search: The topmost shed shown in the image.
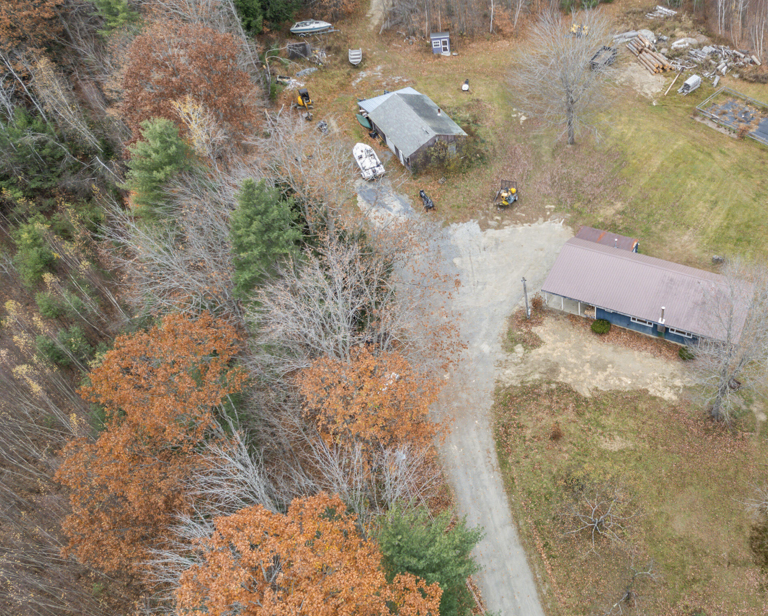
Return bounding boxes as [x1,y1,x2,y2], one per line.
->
[432,32,453,57]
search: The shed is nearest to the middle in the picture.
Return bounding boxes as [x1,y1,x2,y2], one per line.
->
[356,87,468,172]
